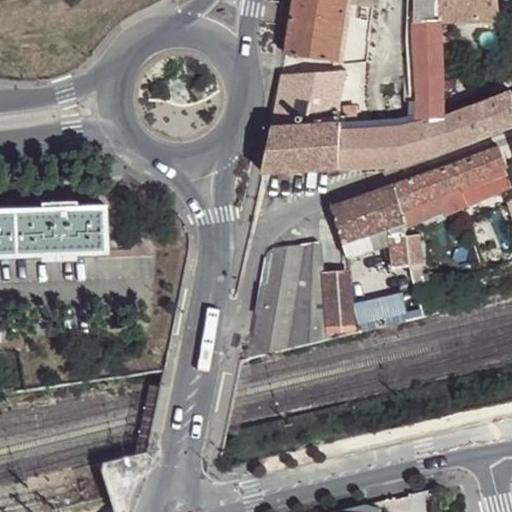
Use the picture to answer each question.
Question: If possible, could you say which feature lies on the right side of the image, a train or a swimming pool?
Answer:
swimming pool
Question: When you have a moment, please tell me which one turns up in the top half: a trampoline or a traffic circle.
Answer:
traffic circle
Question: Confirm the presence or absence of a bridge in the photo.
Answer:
Yes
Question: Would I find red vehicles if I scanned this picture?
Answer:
No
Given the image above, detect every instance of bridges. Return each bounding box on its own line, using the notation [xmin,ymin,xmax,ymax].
[148,361,242,454]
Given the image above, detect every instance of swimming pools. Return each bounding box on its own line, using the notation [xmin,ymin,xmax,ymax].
[479,32,496,49]
[452,247,470,263]
[491,212,512,247]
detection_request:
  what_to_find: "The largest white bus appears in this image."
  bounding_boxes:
[196,306,220,372]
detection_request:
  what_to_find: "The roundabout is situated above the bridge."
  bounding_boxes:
[96,12,262,180]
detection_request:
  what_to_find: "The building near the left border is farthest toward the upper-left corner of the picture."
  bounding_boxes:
[0,200,110,262]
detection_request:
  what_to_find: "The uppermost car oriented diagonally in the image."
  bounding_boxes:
[152,158,176,180]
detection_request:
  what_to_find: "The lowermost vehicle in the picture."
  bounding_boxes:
[424,456,448,468]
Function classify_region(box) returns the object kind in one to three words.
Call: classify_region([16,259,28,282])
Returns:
vehicle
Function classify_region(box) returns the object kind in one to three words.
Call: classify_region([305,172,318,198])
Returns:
vehicle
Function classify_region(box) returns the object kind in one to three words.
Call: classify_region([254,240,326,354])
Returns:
building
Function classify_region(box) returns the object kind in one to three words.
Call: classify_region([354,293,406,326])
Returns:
shed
